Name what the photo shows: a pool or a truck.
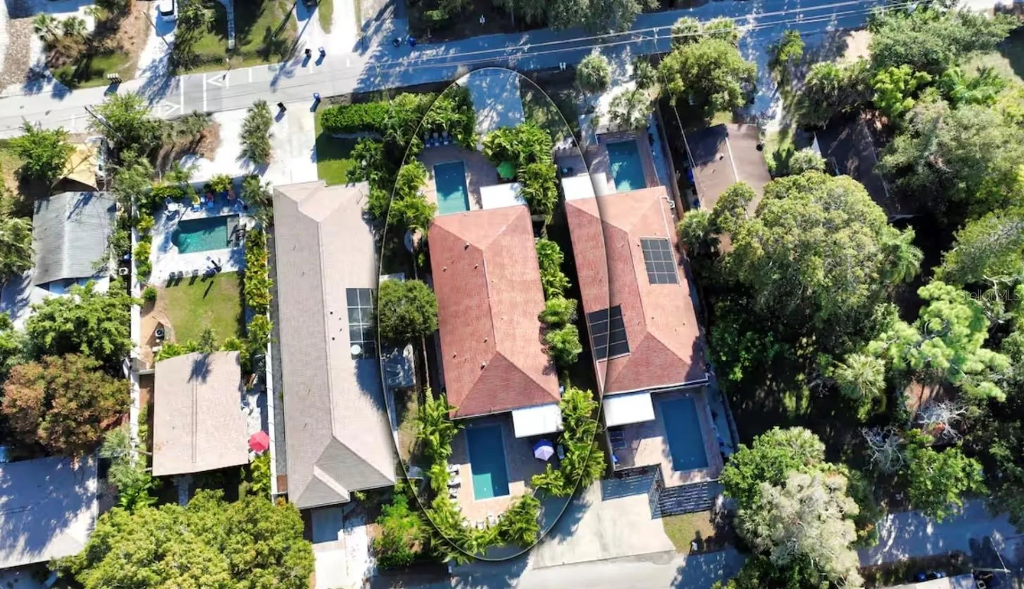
pool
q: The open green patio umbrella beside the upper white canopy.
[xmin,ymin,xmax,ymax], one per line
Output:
[496,161,514,180]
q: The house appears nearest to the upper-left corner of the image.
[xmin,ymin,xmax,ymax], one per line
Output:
[34,192,124,288]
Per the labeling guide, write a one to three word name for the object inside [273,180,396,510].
house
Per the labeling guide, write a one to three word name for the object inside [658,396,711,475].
swimming pool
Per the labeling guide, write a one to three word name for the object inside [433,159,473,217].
swimming pool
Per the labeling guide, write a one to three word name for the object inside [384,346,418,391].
shed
